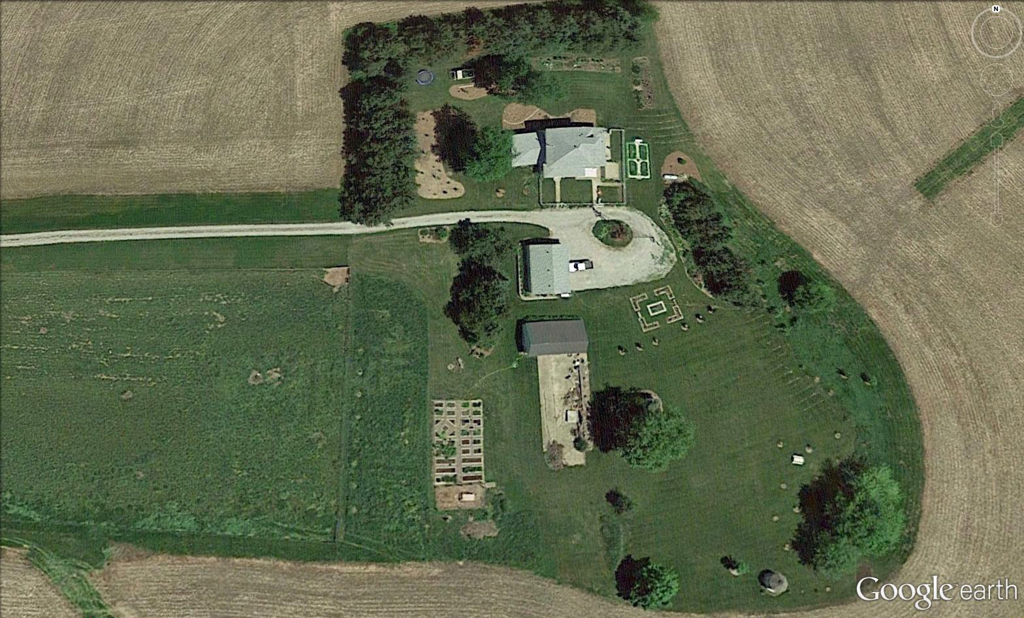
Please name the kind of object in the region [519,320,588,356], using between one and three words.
shed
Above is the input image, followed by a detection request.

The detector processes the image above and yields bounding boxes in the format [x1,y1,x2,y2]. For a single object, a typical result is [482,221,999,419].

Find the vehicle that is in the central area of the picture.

[569,260,593,272]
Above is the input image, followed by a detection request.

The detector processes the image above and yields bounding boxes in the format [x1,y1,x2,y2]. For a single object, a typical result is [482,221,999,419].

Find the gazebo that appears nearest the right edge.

[764,568,788,596]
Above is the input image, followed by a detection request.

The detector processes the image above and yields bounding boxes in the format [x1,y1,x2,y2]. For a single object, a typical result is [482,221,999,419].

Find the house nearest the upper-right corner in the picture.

[507,128,607,178]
